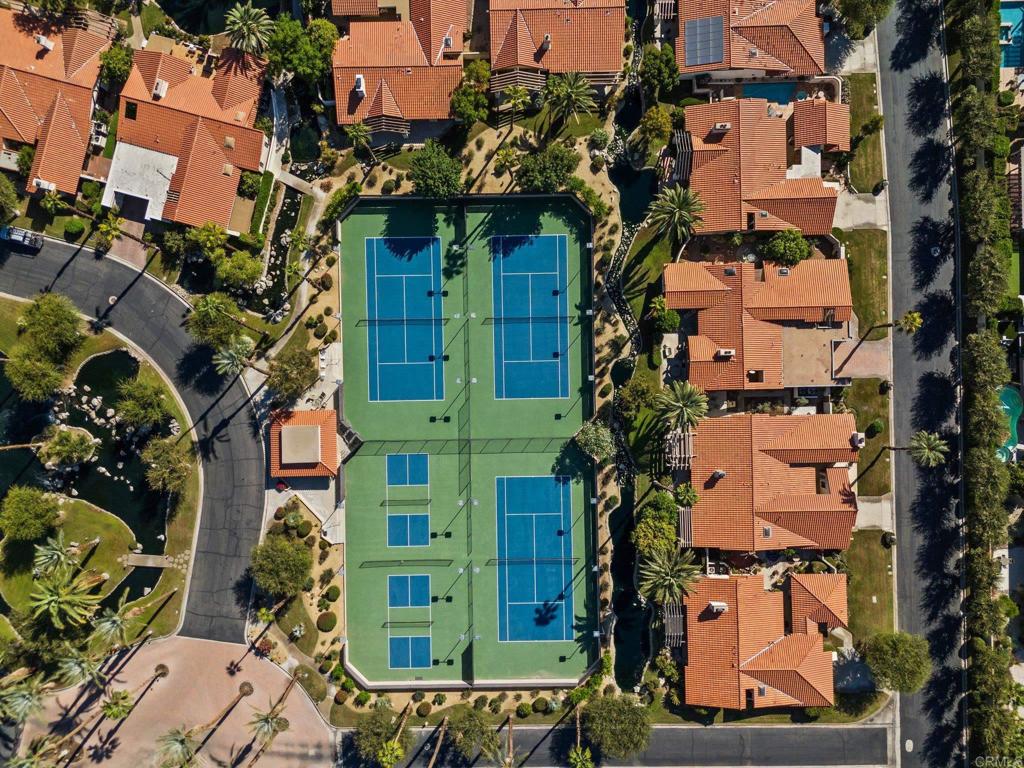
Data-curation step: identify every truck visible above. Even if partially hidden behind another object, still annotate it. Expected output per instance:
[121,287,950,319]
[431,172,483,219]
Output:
[0,225,42,249]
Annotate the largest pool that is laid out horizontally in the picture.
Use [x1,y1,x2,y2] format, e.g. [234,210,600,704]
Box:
[740,80,800,108]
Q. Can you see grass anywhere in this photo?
Yes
